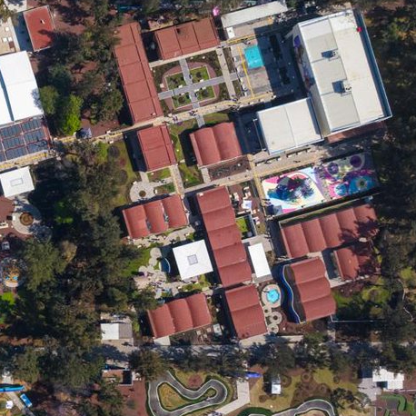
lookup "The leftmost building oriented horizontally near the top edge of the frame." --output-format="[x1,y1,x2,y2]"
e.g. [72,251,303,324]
[154,18,220,62]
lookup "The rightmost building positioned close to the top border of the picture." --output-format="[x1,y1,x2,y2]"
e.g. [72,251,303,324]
[284,9,392,135]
